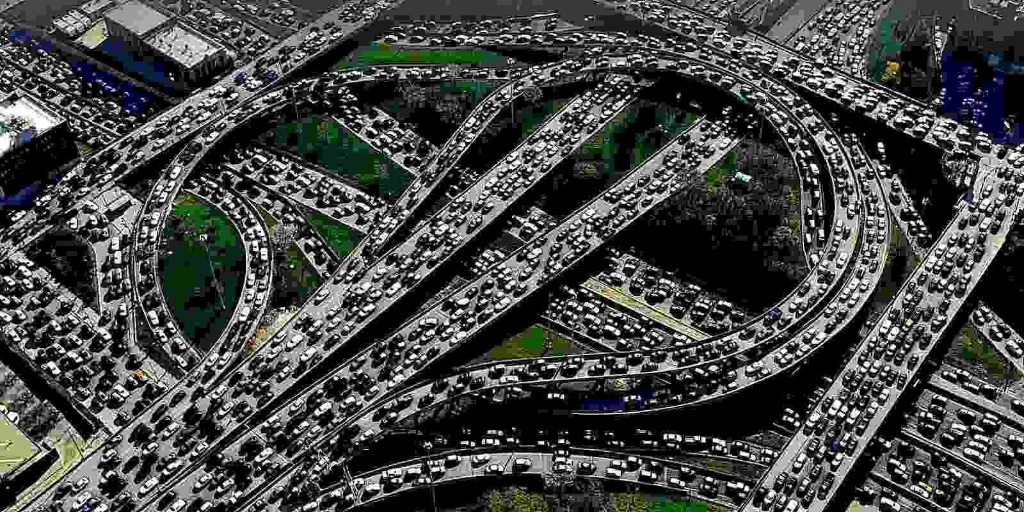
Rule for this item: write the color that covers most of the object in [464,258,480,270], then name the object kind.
black vehicle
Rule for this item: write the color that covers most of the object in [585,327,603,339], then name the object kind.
black vehicle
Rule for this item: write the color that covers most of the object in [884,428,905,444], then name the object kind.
black car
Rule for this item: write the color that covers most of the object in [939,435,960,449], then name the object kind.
black car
